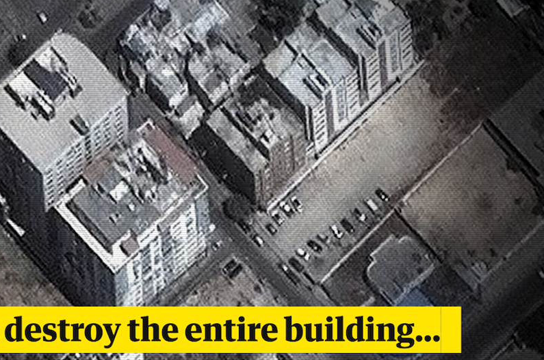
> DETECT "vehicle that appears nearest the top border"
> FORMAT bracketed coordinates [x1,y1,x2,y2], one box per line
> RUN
[35,11,50,25]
